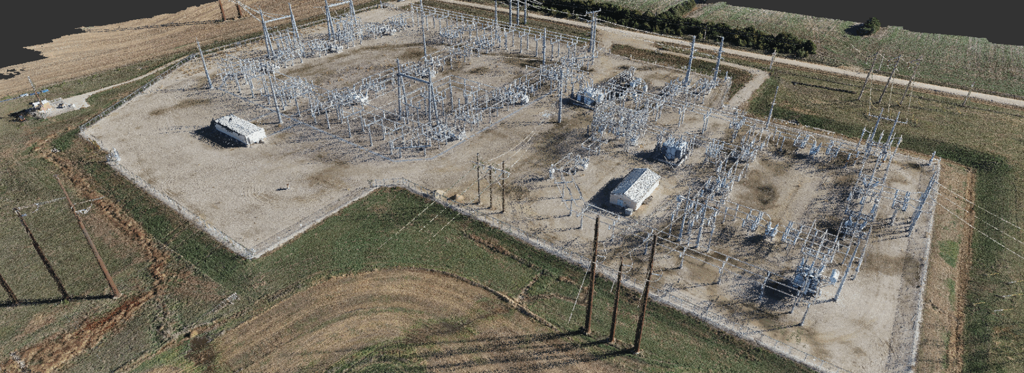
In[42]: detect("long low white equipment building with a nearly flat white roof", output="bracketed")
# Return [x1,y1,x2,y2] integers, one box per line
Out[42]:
[211,116,264,148]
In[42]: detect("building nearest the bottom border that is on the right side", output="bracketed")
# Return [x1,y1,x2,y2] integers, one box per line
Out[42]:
[609,167,659,211]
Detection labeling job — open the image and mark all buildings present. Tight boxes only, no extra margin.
[211,116,264,148]
[609,167,659,211]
